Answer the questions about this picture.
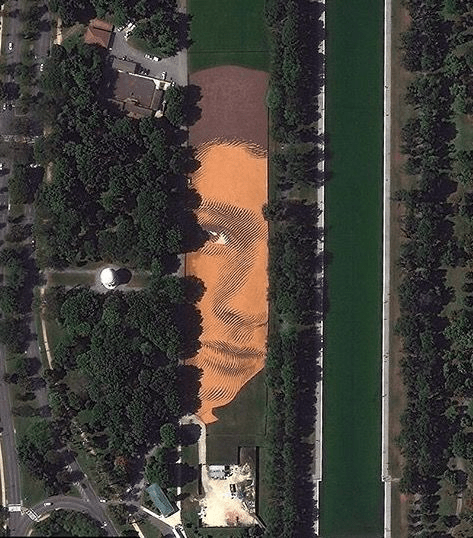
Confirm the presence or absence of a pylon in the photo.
No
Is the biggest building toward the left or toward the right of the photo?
left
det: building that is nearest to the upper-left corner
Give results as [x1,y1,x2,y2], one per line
[85,19,115,49]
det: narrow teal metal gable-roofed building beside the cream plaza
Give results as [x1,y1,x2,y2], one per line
[146,484,174,518]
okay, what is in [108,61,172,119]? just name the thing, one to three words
building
